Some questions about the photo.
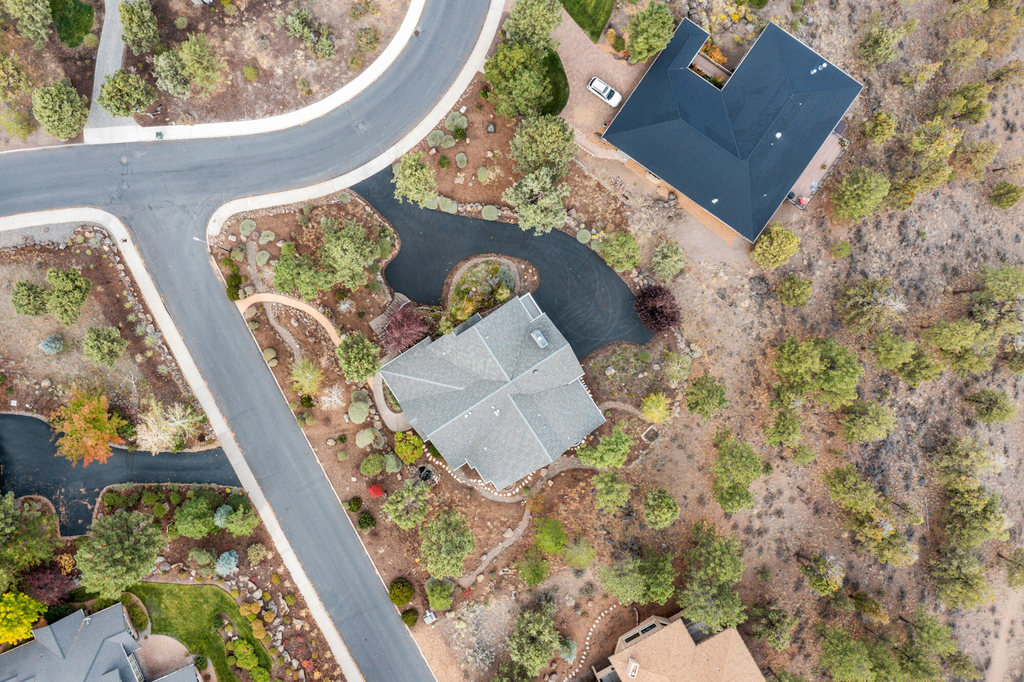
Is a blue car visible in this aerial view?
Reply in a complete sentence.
No, there isn't any blue car down there.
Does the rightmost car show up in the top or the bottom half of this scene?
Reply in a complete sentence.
Seen from above, the rightmost car lies in the top half of the view.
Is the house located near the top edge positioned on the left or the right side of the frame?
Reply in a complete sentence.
The house located near the top edge sits on the right side.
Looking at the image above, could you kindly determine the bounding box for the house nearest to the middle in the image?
[379,293,607,492]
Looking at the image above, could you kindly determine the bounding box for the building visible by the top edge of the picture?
[601,17,864,244]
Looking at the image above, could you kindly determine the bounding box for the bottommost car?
[586,75,623,108]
